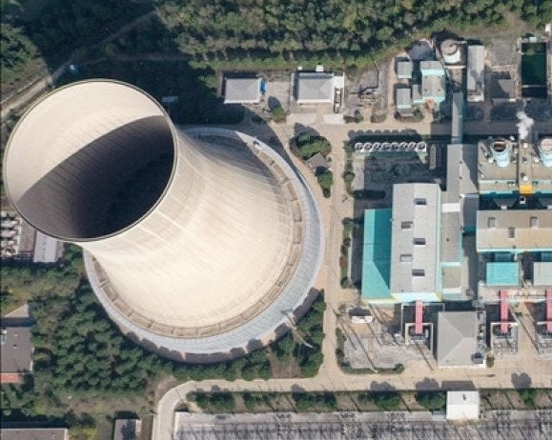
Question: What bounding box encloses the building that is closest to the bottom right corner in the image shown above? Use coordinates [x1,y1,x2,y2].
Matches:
[446,391,482,421]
